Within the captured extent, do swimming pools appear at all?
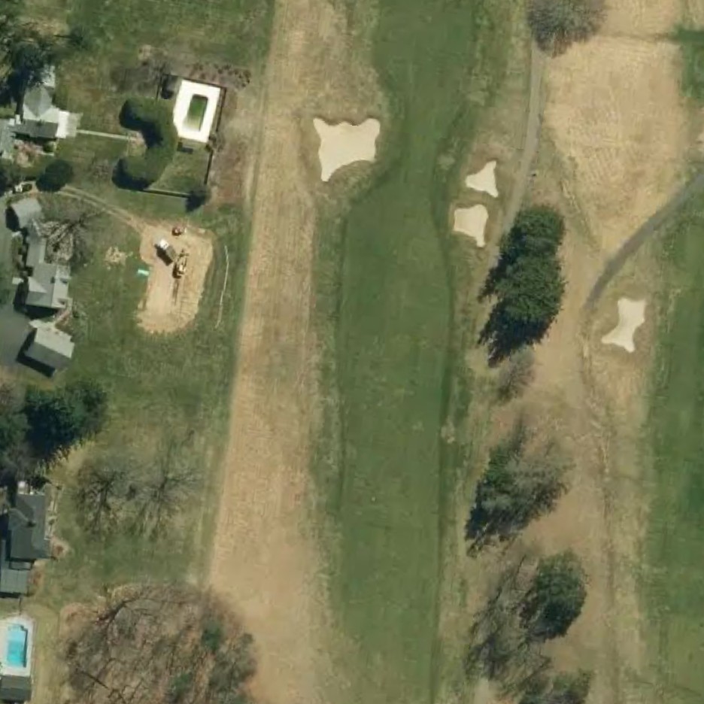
Yes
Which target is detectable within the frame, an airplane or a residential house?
residential house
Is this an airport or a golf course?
golf course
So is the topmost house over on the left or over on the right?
left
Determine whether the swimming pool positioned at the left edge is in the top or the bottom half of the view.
bottom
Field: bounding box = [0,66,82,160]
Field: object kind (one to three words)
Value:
house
